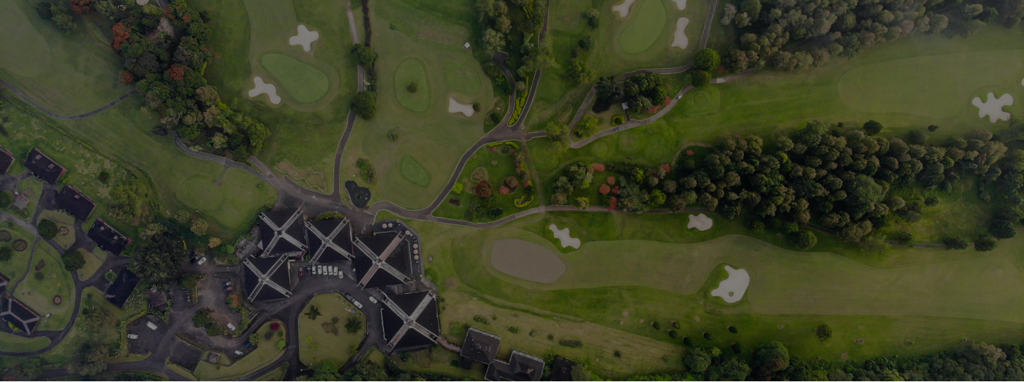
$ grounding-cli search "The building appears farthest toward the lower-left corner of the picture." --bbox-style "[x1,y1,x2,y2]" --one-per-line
[0,298,43,335]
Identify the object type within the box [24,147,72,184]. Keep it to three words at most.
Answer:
house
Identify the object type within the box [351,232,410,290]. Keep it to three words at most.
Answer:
building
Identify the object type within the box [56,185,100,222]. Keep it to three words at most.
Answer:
house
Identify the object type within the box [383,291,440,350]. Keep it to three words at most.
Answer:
building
